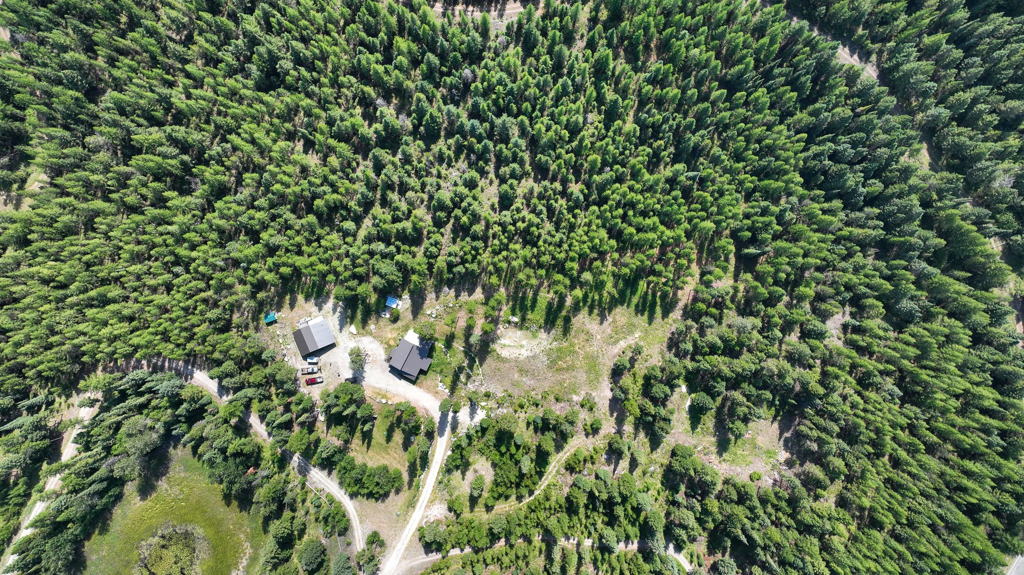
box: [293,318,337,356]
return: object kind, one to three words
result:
building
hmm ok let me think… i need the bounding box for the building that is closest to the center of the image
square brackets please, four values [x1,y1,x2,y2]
[390,330,433,381]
